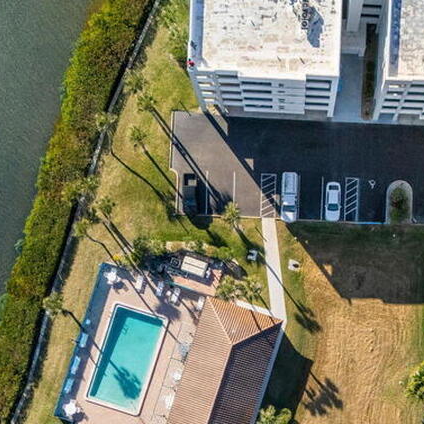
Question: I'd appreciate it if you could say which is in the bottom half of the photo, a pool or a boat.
pool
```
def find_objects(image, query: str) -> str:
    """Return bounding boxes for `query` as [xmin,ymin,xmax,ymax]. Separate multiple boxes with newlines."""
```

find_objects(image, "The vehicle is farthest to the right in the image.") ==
[324,182,342,222]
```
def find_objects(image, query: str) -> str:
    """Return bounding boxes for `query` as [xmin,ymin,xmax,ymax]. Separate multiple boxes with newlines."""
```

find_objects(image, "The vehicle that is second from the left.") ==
[280,171,299,221]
